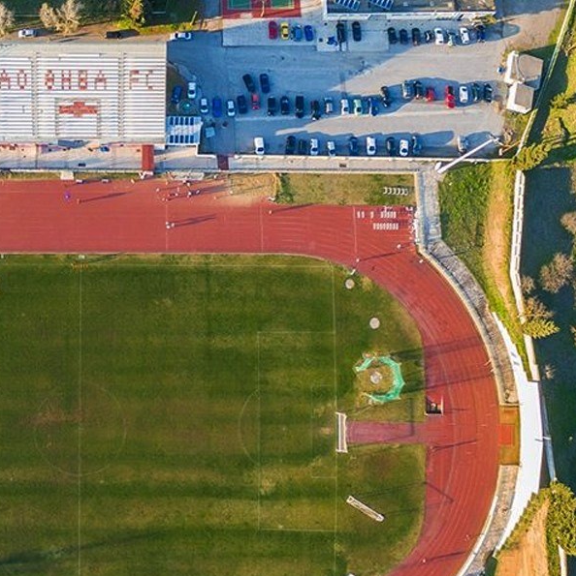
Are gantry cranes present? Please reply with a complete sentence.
No, there's no gantry crane here.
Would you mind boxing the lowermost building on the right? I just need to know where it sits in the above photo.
[504,85,534,115]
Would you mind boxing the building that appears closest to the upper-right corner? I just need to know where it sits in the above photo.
[502,51,543,91]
